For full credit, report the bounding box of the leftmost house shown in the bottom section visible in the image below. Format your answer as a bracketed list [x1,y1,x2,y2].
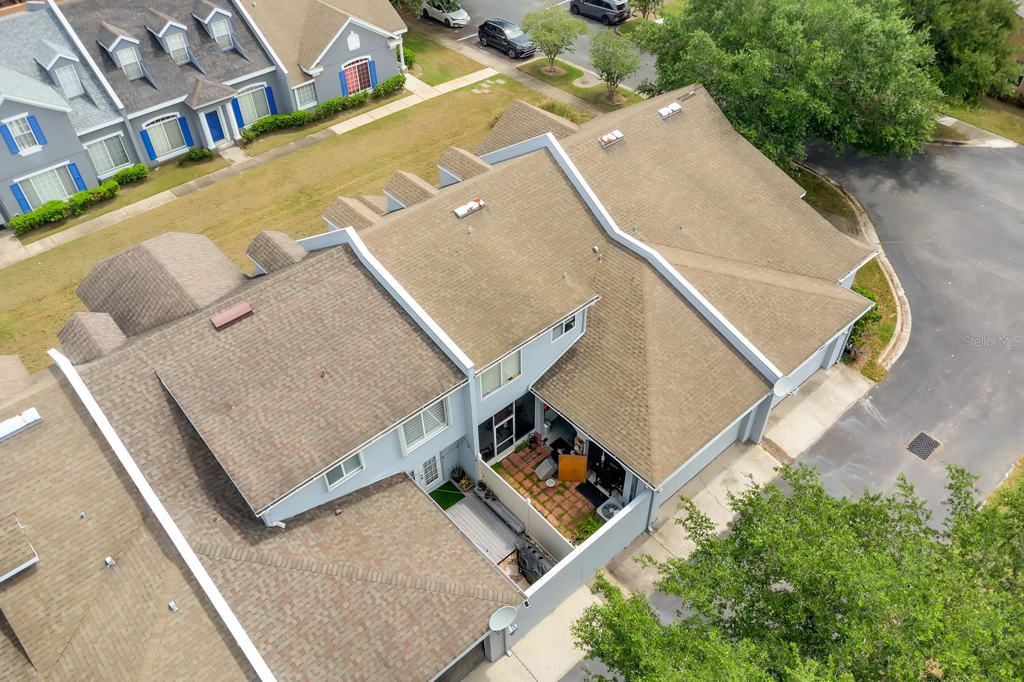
[0,353,259,682]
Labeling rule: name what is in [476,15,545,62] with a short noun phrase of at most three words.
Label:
car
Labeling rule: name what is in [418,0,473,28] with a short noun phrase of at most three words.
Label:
car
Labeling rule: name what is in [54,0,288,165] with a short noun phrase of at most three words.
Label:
house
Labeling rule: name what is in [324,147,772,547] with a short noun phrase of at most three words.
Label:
house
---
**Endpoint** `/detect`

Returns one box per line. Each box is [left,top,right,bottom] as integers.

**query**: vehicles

[476,15,545,62]
[418,0,473,28]
[568,0,637,27]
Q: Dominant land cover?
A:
buildings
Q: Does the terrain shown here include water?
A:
No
